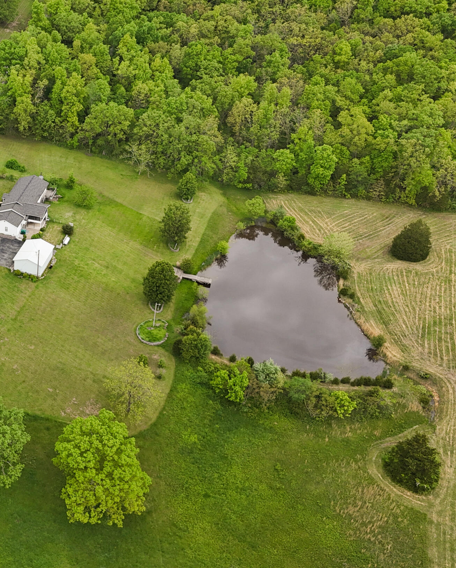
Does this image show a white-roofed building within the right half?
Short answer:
No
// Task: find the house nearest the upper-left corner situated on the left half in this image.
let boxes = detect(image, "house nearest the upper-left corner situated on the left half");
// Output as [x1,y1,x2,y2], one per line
[0,172,58,236]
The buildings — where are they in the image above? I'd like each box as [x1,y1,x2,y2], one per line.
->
[13,238,54,276]
[0,172,58,236]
